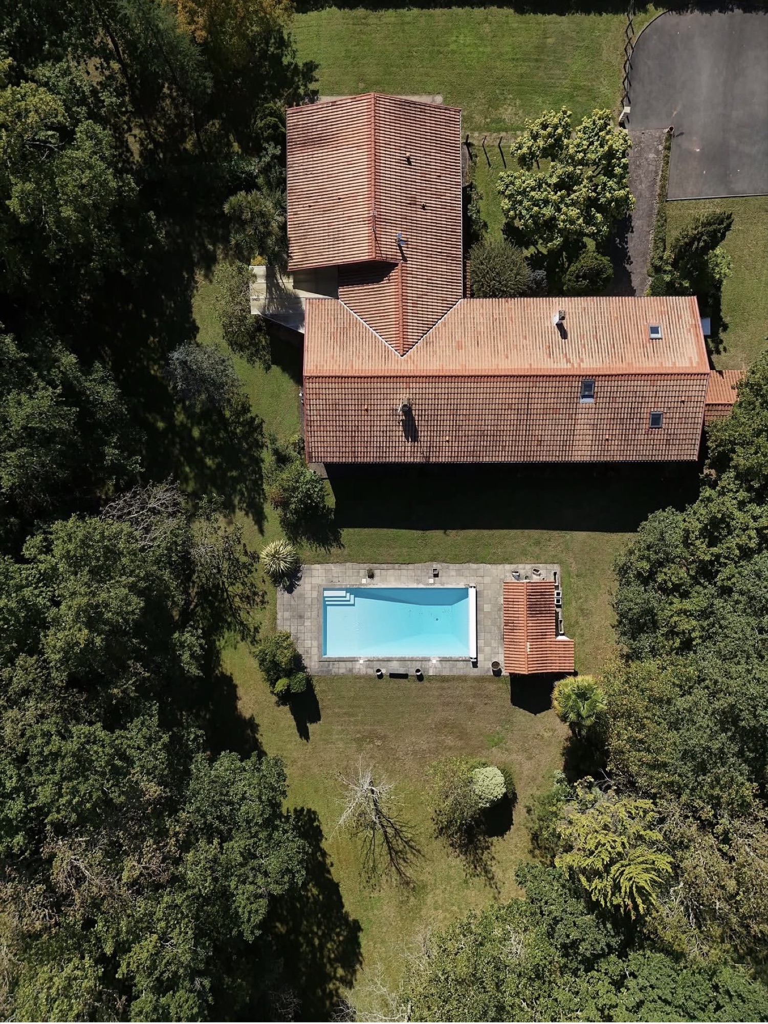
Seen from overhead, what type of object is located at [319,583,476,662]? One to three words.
swimming pool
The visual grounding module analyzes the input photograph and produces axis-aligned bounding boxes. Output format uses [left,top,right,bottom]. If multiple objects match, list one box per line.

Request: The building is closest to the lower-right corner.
[499,579,575,675]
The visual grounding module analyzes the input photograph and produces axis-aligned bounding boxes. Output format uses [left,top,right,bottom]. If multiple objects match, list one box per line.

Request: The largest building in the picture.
[285,91,711,464]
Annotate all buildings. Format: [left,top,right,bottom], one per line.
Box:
[499,579,575,675]
[285,91,711,464]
